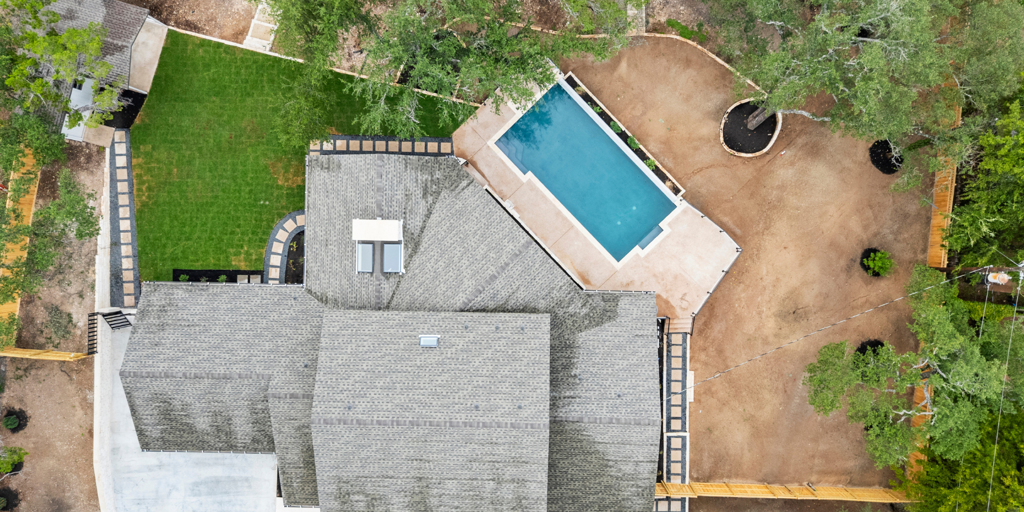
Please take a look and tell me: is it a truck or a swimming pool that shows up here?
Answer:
swimming pool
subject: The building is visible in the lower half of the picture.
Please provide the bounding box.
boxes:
[120,153,663,512]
